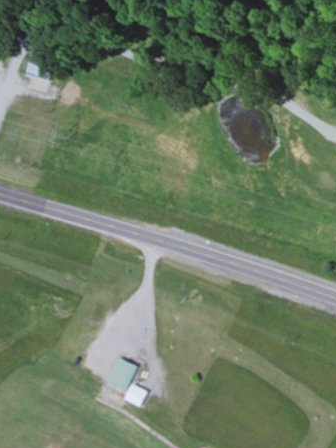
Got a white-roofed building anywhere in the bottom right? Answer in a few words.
No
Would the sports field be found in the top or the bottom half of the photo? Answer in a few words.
bottom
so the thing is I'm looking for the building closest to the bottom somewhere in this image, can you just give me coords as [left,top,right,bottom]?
[125,384,150,408]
